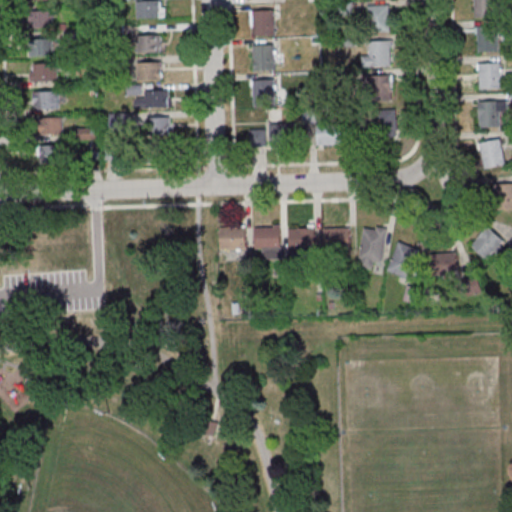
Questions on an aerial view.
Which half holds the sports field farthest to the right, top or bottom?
bottom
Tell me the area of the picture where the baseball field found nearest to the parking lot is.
bottom left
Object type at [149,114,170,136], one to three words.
house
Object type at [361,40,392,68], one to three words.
house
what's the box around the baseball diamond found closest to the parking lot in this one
[28,406,216,512]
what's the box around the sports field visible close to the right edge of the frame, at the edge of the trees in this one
[344,356,504,512]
